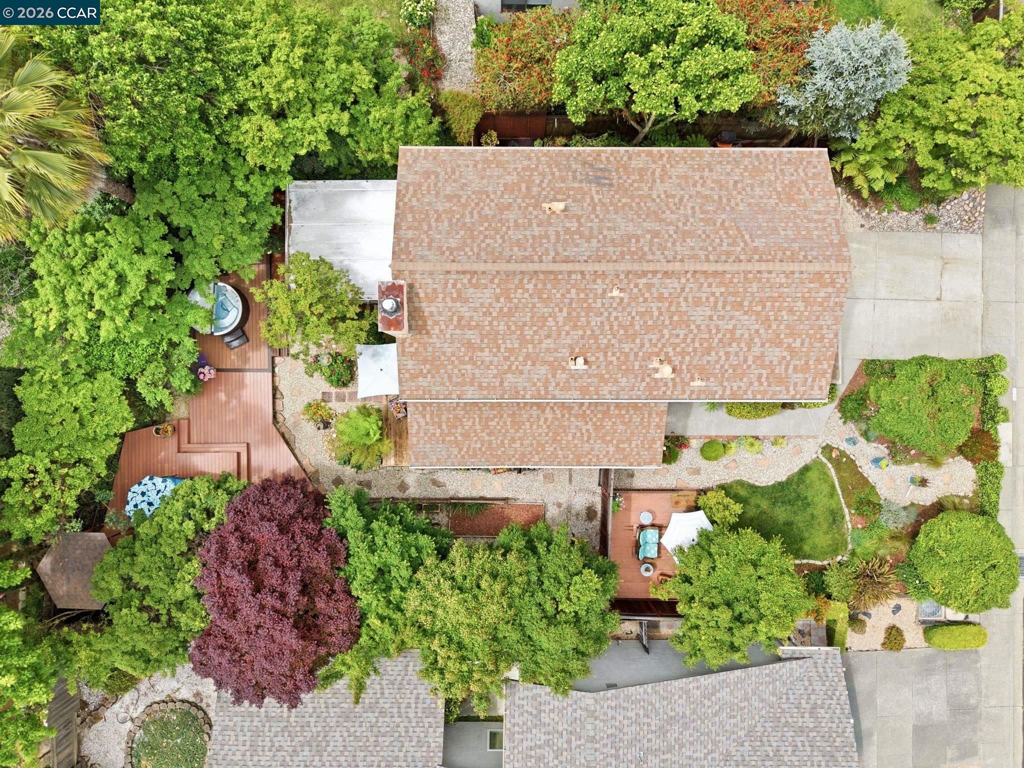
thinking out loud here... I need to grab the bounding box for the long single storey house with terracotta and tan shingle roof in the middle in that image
[378,146,855,471]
